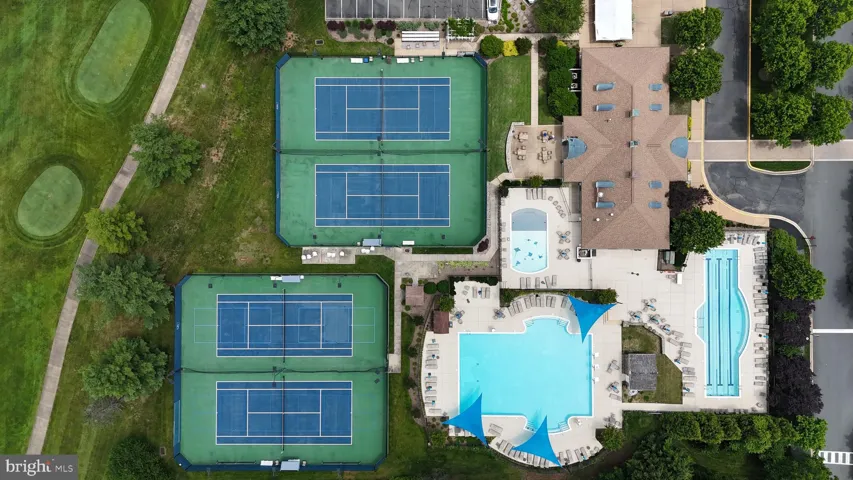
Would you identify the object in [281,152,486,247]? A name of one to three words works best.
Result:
tennis court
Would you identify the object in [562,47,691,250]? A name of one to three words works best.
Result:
building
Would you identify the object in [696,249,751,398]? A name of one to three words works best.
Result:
swimming pool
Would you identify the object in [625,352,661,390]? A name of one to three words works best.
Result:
shed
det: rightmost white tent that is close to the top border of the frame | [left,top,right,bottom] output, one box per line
[591,0,632,45]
